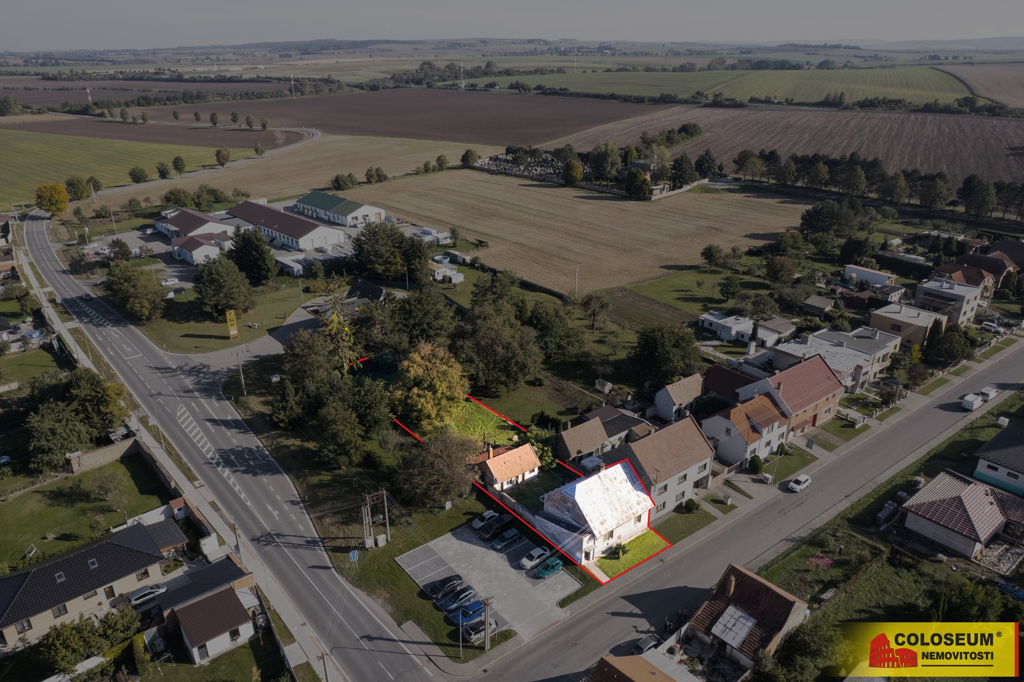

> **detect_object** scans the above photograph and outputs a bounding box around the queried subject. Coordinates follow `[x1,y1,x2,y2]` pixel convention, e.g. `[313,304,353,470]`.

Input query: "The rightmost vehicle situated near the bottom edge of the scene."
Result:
[633,630,665,654]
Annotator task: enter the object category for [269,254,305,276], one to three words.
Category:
shed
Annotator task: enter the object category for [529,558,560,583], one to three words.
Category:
car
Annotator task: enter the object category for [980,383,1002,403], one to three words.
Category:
vehicle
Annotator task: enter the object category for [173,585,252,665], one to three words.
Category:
building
